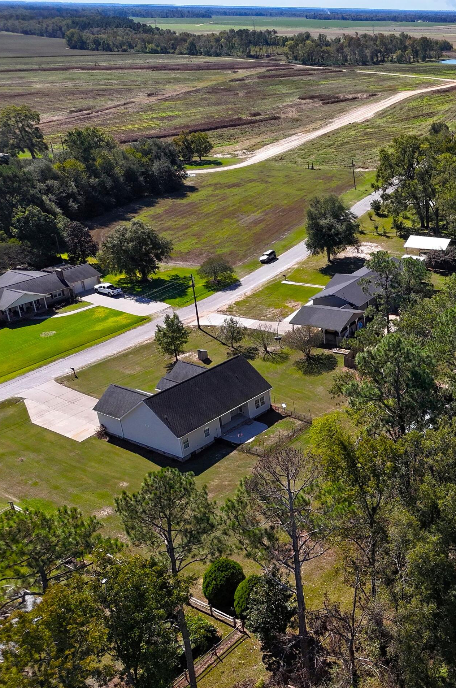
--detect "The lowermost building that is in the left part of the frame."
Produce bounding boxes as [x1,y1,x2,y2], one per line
[81,356,272,460]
